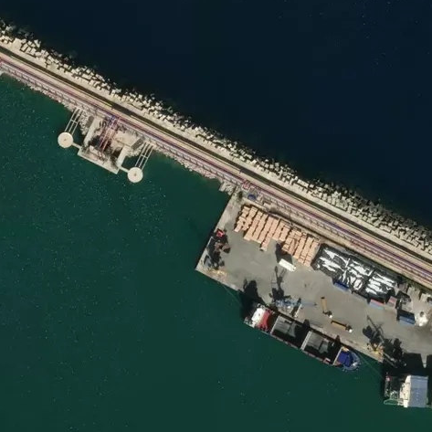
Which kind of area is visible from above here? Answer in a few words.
port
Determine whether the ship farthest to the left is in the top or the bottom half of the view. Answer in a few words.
bottom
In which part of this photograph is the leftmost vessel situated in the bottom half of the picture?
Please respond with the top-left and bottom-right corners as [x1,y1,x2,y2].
[245,303,360,368]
